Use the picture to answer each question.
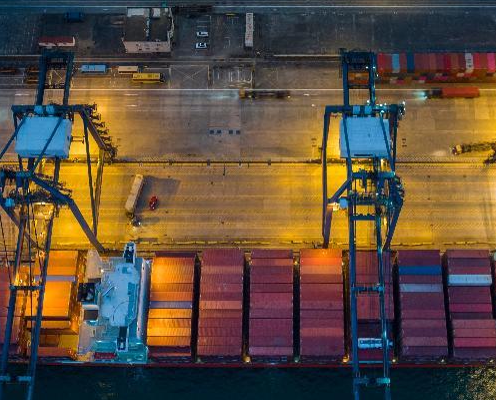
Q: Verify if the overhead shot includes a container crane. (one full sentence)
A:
Yes, there's a container crane down there.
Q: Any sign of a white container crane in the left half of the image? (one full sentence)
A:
No, no white container crane is visible in the left half of the image.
